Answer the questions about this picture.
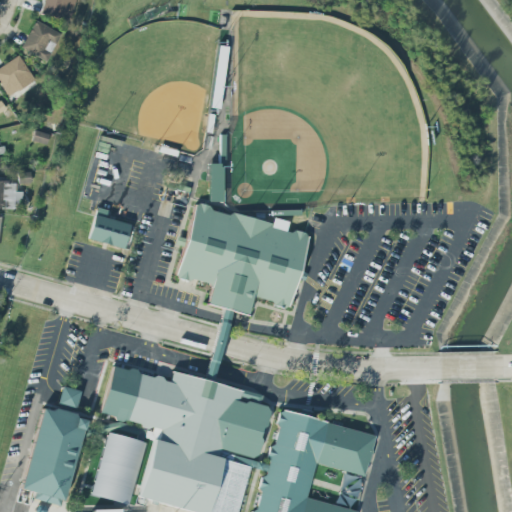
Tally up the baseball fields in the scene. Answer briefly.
2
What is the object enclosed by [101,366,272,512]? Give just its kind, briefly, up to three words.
building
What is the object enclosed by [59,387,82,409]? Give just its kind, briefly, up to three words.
building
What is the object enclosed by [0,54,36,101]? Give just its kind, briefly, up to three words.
house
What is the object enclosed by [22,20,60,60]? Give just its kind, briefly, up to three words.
house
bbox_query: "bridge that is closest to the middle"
[209,310,235,384]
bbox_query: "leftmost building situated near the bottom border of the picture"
[25,405,92,506]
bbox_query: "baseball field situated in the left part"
[84,24,219,156]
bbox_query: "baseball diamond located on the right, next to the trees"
[228,10,428,206]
